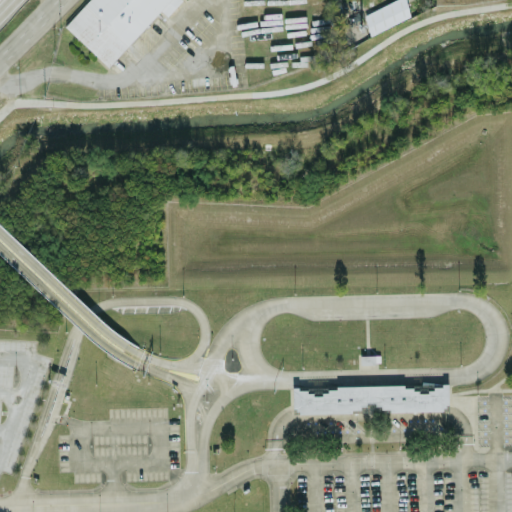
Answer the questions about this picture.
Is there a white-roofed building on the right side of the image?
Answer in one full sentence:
Yes, you'll find a white-roofed building on the right side of the image.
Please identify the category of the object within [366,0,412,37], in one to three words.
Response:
shed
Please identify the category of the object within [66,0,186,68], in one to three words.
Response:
building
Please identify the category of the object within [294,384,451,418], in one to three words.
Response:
building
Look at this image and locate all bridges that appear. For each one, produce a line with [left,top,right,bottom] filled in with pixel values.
[0,228,156,373]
